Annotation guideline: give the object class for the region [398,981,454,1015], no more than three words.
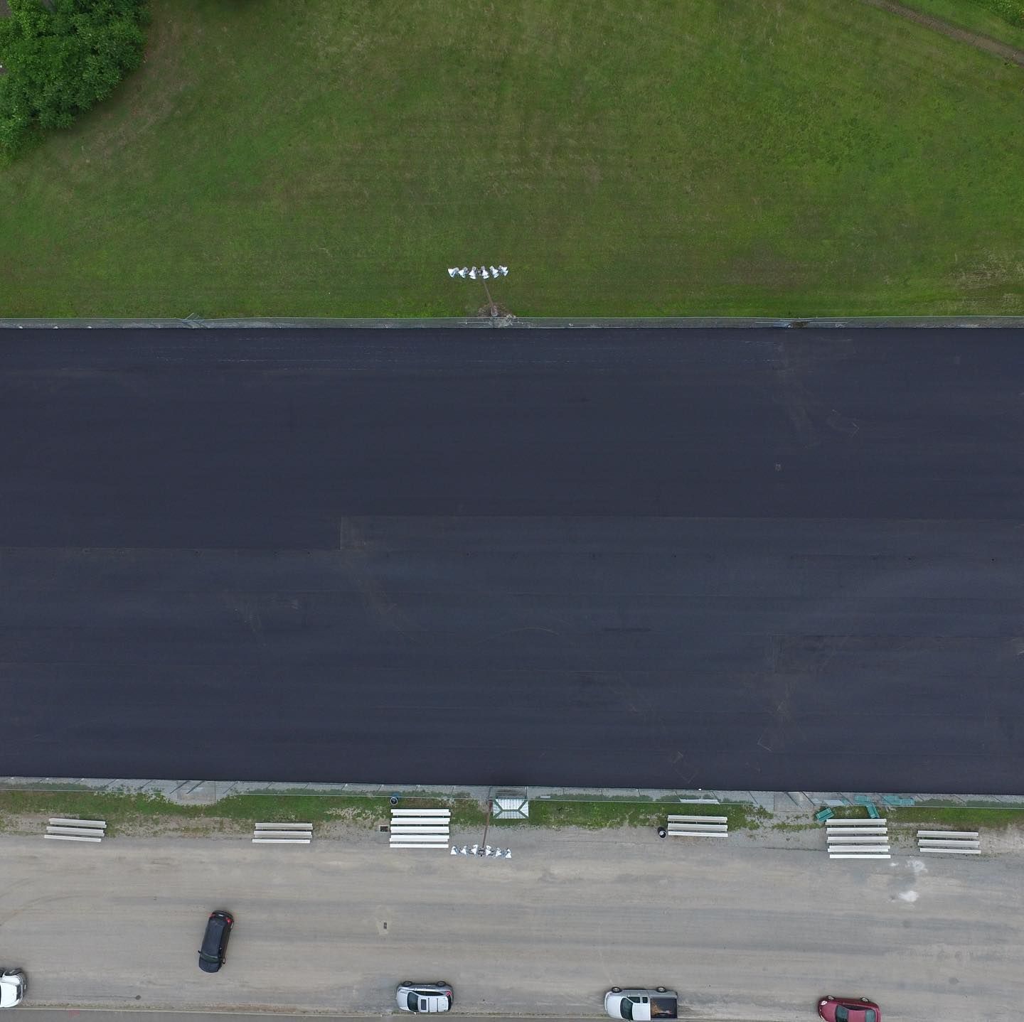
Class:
car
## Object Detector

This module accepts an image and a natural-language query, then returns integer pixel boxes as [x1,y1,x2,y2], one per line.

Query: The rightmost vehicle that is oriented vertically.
[197,909,234,972]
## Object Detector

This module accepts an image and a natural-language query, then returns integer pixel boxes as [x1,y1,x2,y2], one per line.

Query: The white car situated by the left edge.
[0,973,26,1005]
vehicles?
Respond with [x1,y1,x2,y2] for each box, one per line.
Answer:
[0,973,26,1005]
[604,986,678,1022]
[398,981,454,1015]
[818,997,884,1022]
[197,909,234,972]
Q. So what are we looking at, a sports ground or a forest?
sports ground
